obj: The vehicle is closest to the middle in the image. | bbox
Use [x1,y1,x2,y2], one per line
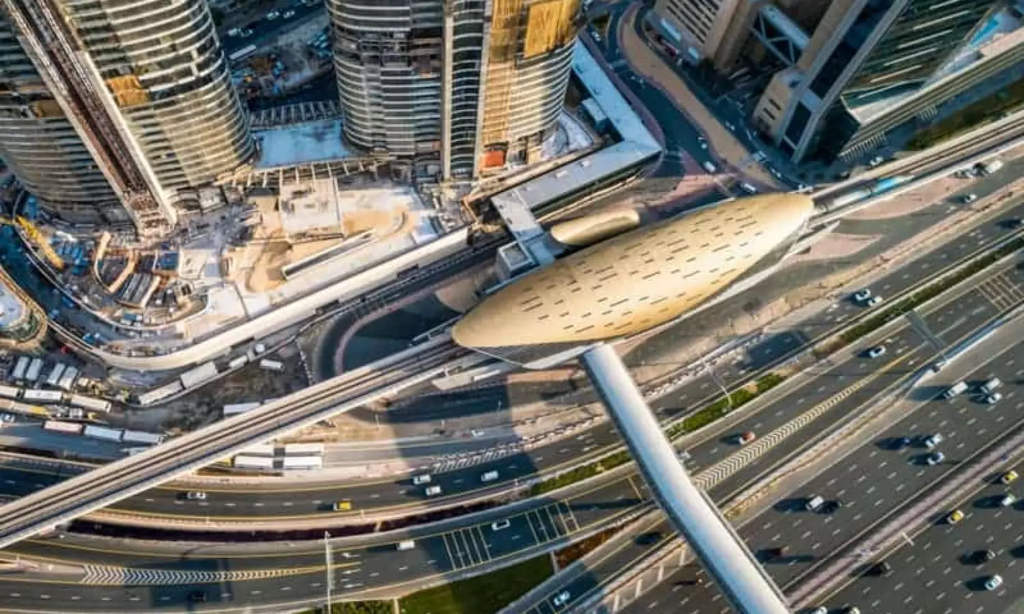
[478,469,501,482]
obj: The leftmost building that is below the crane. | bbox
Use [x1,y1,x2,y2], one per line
[0,263,57,357]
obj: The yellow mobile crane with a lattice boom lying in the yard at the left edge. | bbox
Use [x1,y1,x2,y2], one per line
[11,213,70,272]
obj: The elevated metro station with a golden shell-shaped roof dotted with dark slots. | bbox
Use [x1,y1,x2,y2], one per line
[408,192,841,391]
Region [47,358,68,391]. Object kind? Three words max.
bus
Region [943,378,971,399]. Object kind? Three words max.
truck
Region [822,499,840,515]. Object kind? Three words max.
car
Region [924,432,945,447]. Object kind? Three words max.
vehicle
